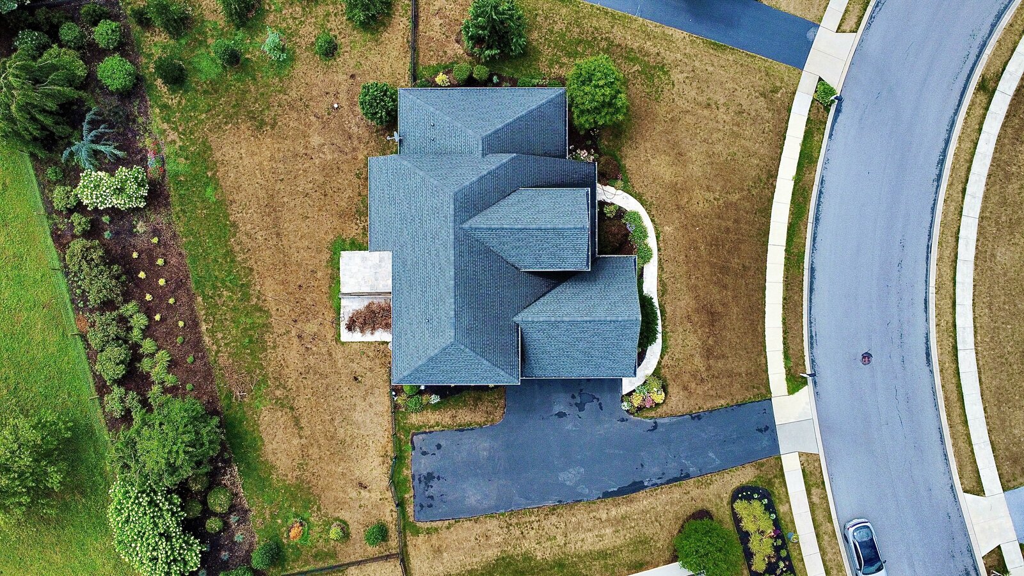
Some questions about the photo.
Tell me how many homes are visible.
1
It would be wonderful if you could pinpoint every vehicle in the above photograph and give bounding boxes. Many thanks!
[846,519,893,576]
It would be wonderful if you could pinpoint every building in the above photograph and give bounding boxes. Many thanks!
[366,85,642,386]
